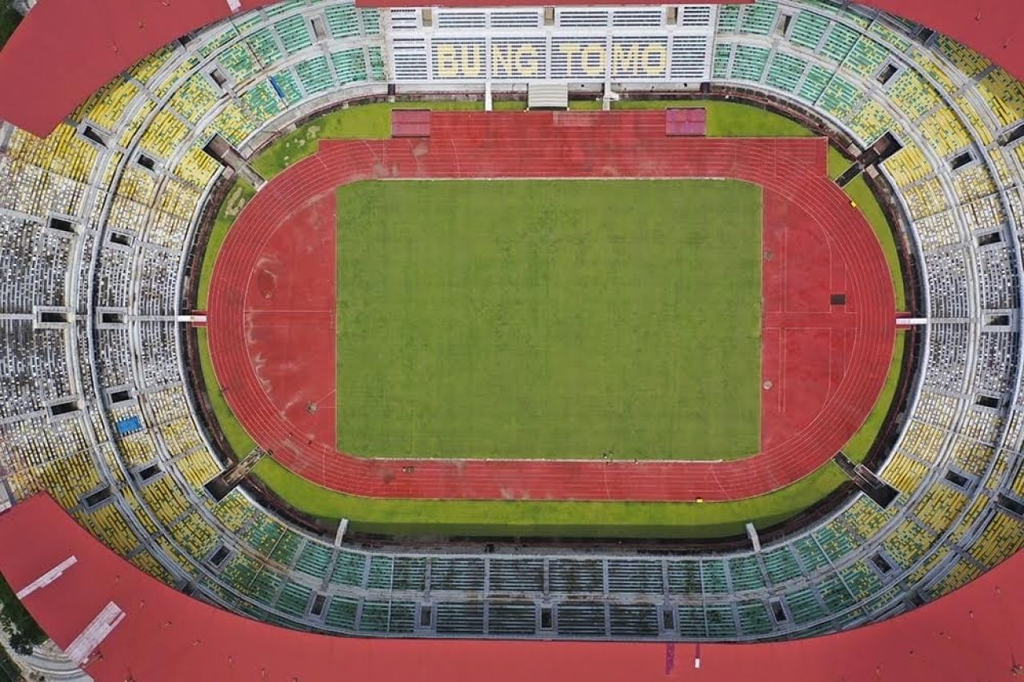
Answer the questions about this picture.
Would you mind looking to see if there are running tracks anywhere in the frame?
Yes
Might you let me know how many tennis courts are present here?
zero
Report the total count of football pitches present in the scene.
1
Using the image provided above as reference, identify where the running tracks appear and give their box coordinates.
[192,109,911,502]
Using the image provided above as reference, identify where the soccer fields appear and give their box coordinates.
[336,177,761,462]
